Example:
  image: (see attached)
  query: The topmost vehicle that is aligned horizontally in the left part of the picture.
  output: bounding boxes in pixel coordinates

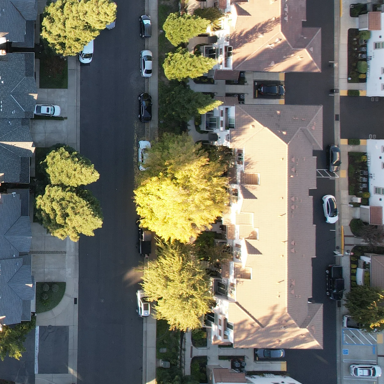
[34,104,61,117]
